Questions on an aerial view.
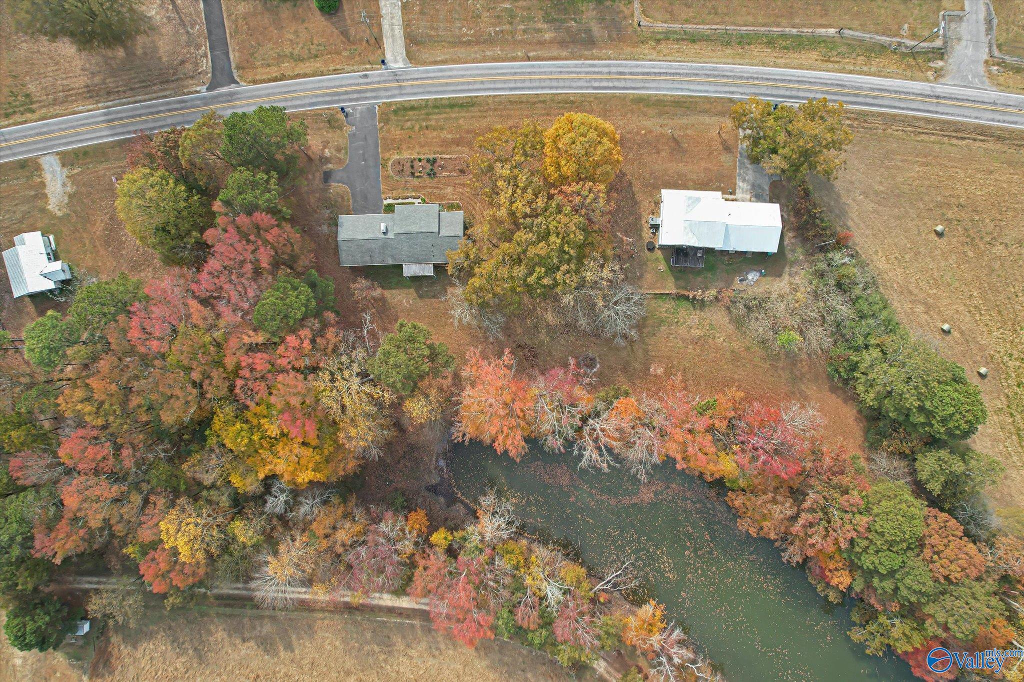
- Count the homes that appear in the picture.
3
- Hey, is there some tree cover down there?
Yes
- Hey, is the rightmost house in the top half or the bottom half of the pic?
top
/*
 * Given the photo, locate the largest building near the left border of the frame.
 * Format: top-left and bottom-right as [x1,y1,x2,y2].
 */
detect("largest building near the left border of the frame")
[2,231,74,299]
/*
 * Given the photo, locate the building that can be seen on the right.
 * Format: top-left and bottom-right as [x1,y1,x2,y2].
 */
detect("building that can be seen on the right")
[658,189,782,252]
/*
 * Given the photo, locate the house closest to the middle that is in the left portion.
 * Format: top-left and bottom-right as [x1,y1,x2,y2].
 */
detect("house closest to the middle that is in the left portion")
[337,203,464,267]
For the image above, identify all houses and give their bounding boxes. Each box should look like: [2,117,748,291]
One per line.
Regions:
[337,203,464,267]
[2,231,74,299]
[658,189,782,252]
